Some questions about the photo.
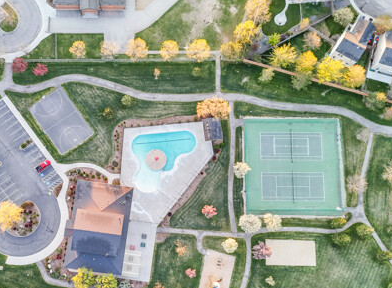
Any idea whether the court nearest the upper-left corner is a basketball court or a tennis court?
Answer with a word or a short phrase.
basketball court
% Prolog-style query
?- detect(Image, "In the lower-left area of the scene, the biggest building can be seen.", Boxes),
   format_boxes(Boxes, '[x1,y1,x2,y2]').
[64,180,134,276]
